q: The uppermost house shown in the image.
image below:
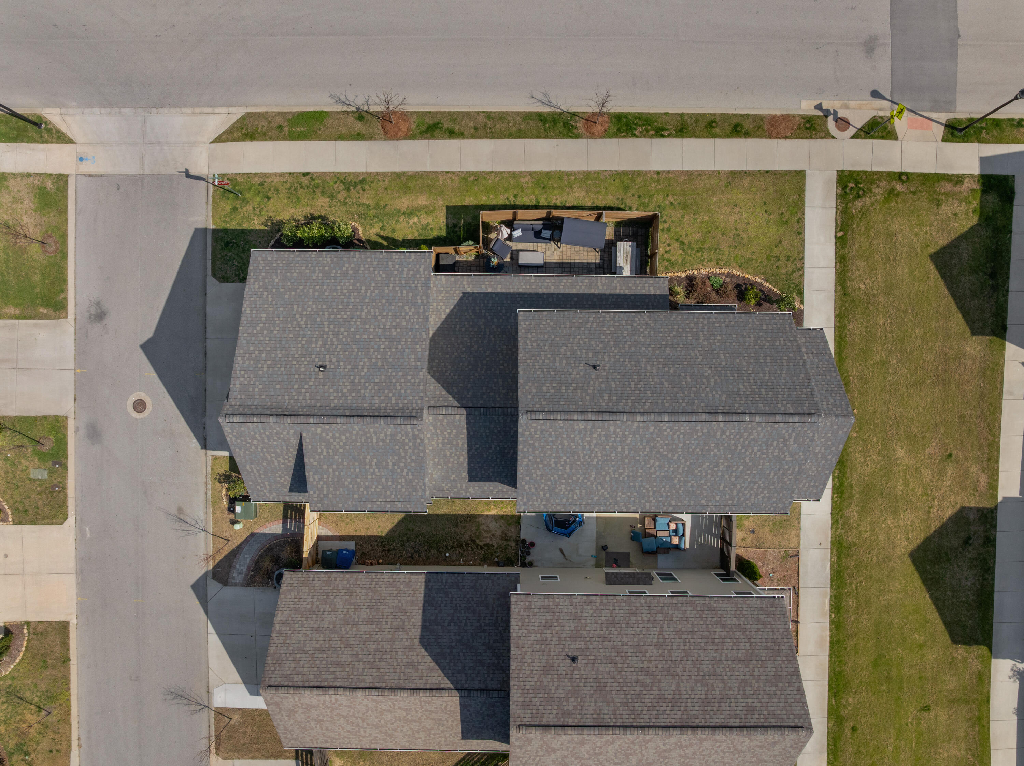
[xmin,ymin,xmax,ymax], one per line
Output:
[220,251,853,513]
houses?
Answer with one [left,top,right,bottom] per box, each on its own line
[261,559,814,766]
[220,251,853,513]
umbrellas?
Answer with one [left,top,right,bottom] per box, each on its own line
[494,220,511,238]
